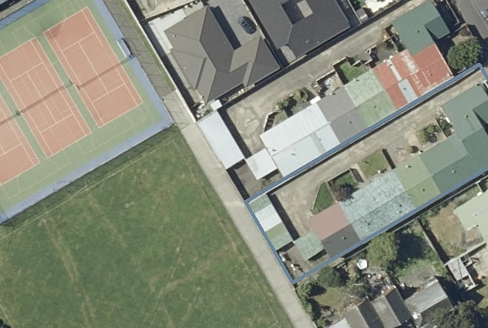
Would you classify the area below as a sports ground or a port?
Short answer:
sports ground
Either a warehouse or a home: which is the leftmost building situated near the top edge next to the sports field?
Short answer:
home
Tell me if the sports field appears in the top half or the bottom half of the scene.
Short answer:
bottom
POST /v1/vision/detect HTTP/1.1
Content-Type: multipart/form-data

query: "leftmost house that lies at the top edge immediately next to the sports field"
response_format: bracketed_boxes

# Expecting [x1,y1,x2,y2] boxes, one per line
[162,5,281,105]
